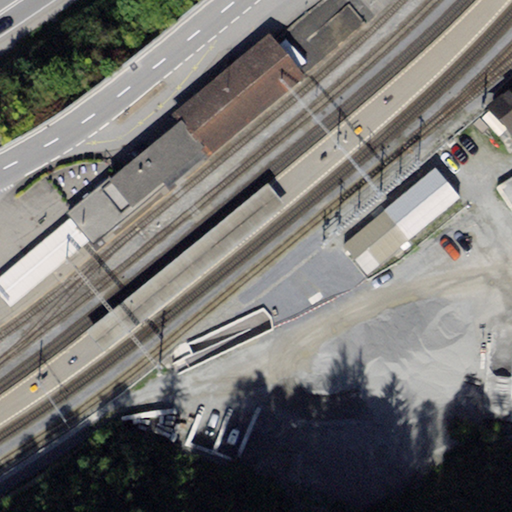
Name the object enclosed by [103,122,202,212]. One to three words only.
building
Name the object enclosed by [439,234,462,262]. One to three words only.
vehicle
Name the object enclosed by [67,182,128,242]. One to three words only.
building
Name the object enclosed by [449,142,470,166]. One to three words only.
car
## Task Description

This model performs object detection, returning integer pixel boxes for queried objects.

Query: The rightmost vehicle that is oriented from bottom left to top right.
[370,269,394,288]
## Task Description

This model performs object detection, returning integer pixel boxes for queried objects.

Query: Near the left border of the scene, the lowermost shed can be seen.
[0,218,88,306]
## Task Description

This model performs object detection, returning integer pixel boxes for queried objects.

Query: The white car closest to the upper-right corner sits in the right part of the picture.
[440,150,462,176]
